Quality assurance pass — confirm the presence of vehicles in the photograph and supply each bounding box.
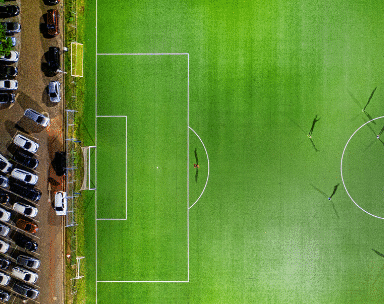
[0,91,17,105]
[10,265,40,284]
[44,47,60,75]
[12,280,41,299]
[0,241,12,256]
[0,175,9,189]
[12,149,41,170]
[0,152,14,173]
[13,202,39,219]
[12,232,41,254]
[16,253,43,270]
[52,152,66,177]
[0,4,22,17]
[11,133,41,153]
[0,50,21,63]
[15,216,41,235]
[0,226,12,240]
[0,257,12,271]
[48,80,62,105]
[53,190,66,215]
[11,181,42,202]
[0,37,18,47]
[0,209,12,224]
[9,166,40,186]
[0,65,20,77]
[45,9,60,37]
[0,78,20,91]
[0,272,12,288]
[0,193,10,206]
[24,108,49,127]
